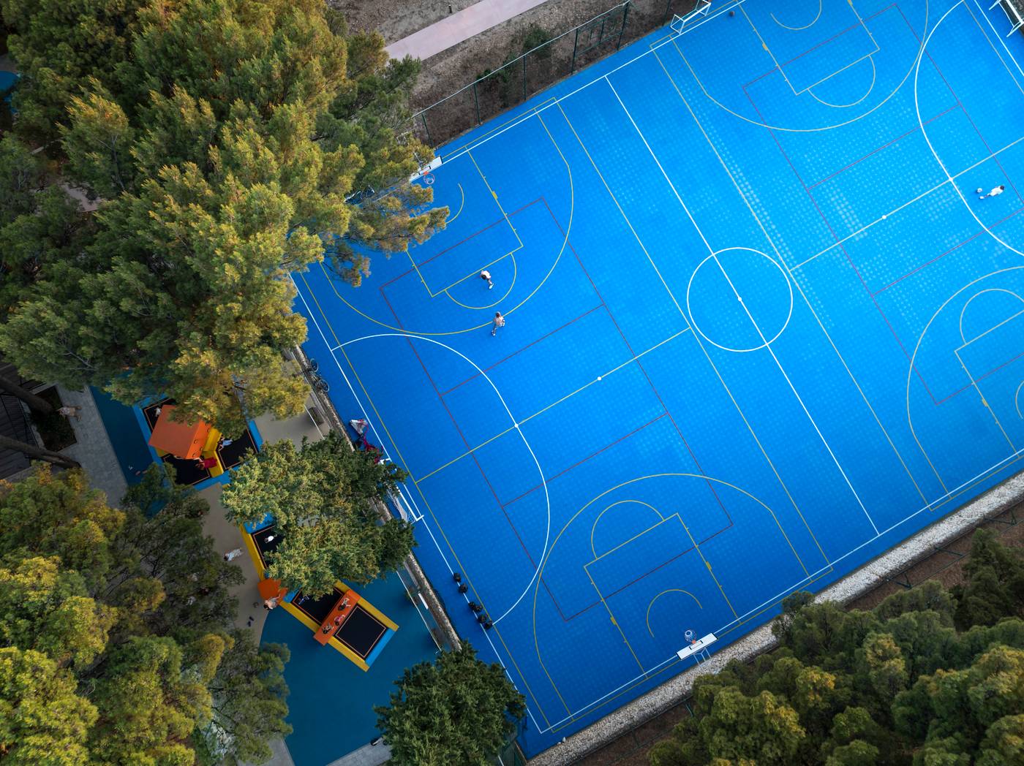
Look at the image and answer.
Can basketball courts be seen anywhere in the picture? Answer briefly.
Yes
